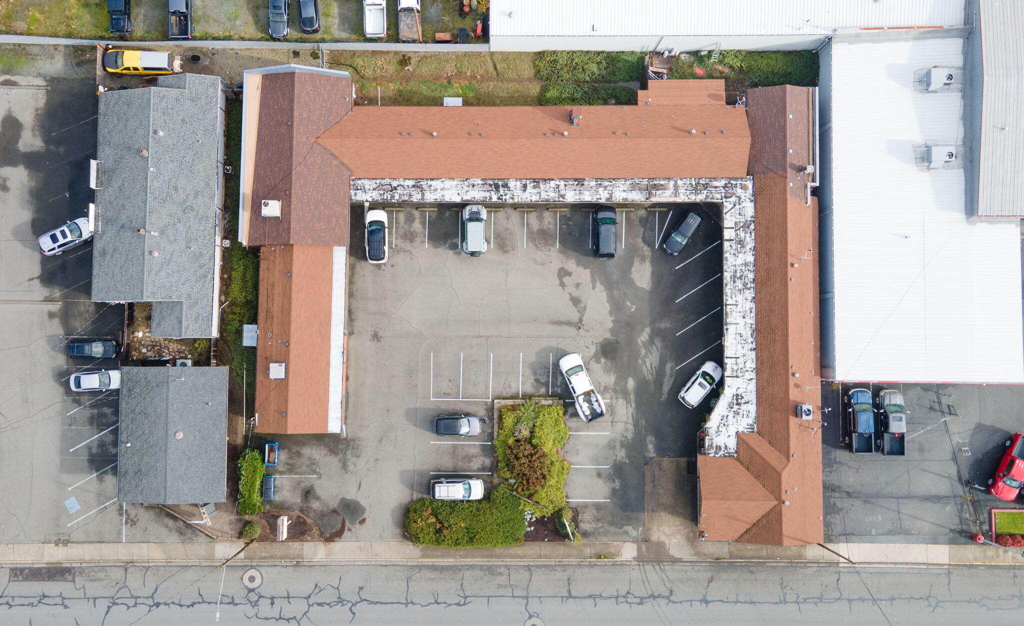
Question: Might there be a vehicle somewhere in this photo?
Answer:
Yes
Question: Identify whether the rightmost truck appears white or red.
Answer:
red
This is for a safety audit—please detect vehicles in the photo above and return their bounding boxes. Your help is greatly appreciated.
[104,0,136,35]
[35,218,94,257]
[843,387,876,456]
[462,206,488,258]
[875,388,909,458]
[661,205,706,260]
[559,352,607,427]
[592,205,619,262]
[362,210,390,265]
[298,0,325,37]
[985,428,1024,500]
[429,476,484,503]
[363,0,388,40]
[69,337,122,363]
[106,46,177,77]
[166,0,195,40]
[264,0,292,41]
[431,413,483,440]
[69,367,120,394]
[679,359,722,412]
[398,0,422,42]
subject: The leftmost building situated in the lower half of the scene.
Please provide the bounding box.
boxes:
[116,366,230,504]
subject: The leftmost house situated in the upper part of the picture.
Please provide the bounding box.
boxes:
[88,72,228,339]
